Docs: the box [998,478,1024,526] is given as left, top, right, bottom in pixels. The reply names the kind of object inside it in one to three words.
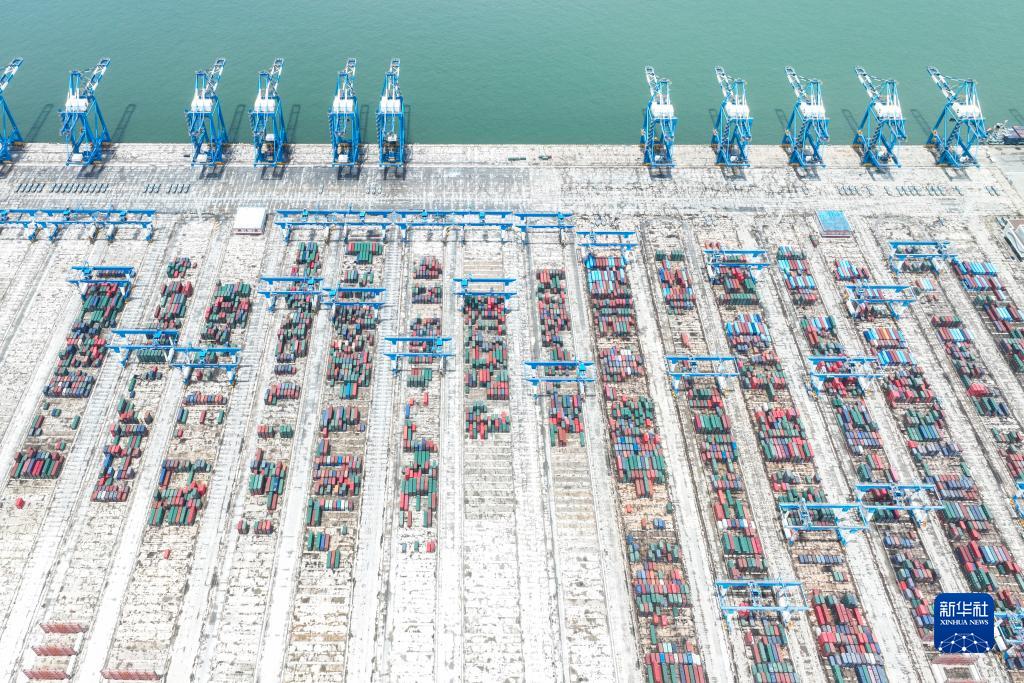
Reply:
container crane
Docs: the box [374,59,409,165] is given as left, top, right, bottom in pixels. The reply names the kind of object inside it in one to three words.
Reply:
container crane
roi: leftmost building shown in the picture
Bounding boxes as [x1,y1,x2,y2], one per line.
[231,208,270,235]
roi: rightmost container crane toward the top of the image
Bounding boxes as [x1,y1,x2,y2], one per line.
[928,66,991,167]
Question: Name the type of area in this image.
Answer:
port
